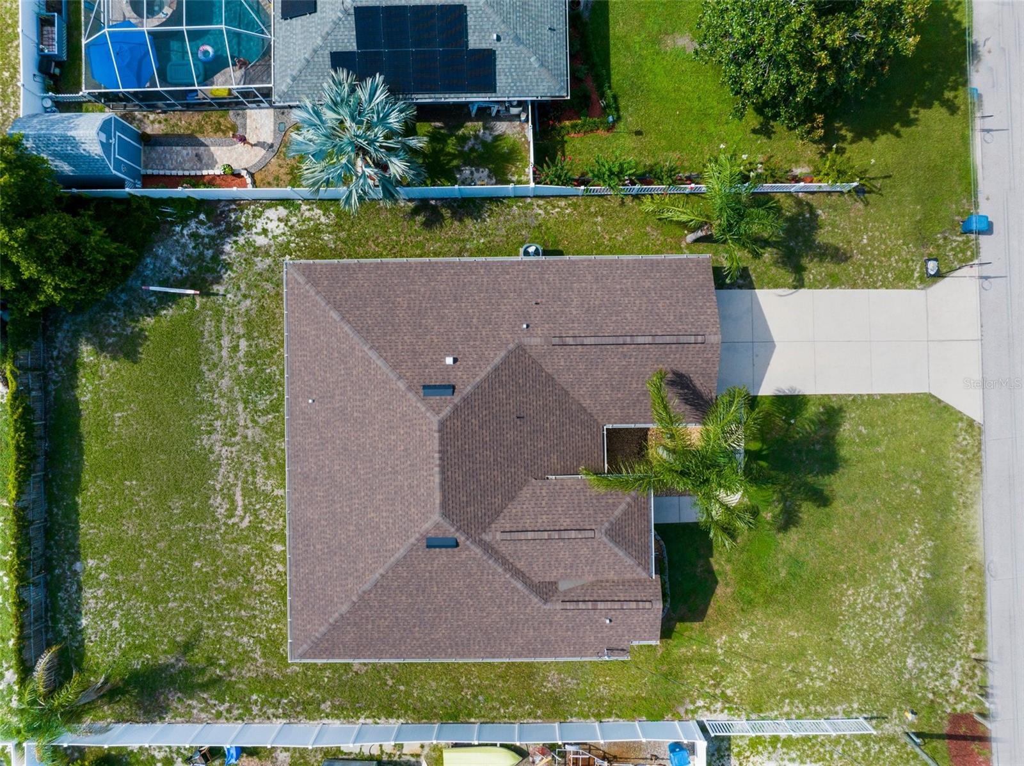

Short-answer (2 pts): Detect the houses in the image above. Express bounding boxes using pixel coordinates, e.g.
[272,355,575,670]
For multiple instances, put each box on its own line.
[269,0,571,108]
[282,253,722,664]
